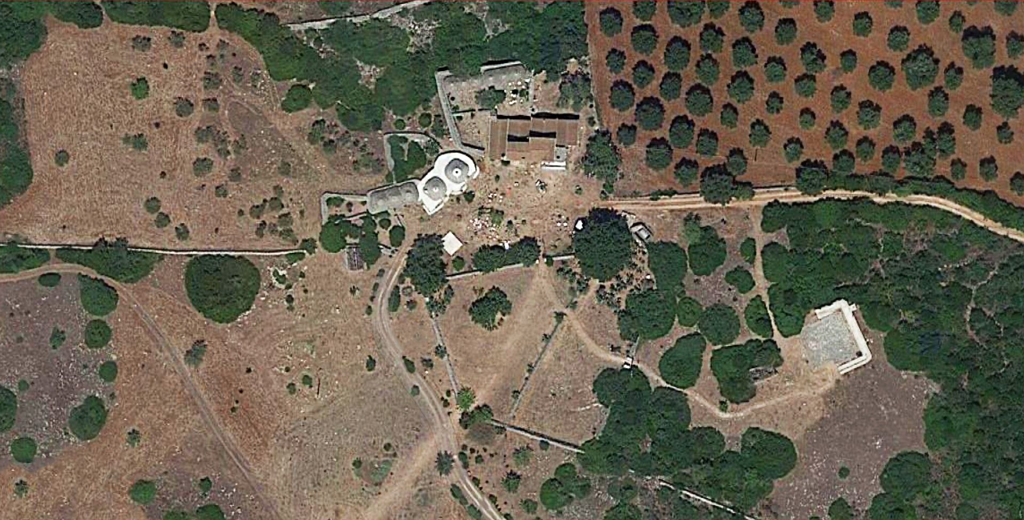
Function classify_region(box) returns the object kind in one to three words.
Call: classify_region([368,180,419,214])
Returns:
barn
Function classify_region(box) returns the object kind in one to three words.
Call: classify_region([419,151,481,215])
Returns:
house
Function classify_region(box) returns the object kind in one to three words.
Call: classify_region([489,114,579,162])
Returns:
house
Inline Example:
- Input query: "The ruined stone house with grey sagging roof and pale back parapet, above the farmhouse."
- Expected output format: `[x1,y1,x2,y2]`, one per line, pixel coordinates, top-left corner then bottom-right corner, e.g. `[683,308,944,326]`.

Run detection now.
[479,61,528,90]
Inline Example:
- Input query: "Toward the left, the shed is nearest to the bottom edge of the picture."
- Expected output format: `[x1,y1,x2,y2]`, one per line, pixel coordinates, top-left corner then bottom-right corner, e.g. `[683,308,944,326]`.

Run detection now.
[345,245,364,271]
